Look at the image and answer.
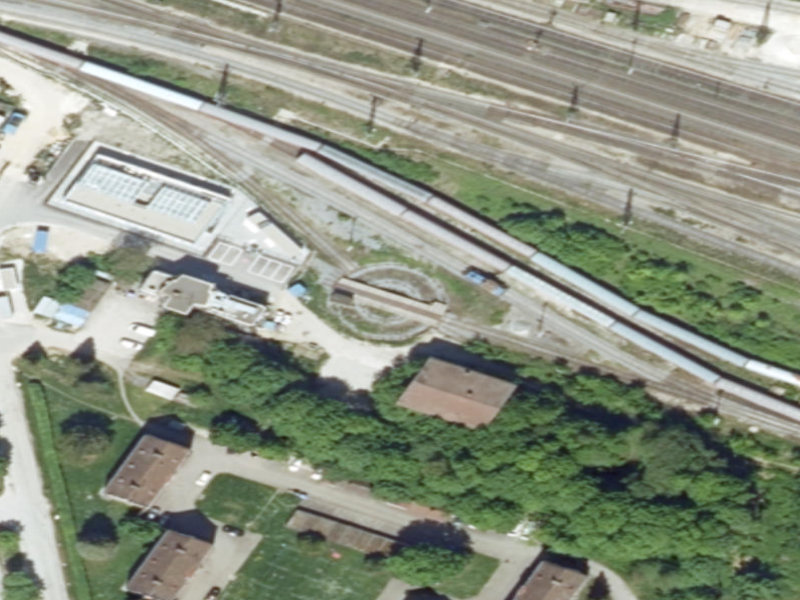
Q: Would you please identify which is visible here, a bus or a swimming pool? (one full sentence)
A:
This aerial view contains a bus.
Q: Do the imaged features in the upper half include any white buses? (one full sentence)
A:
Yes, a white bus appears in the upper half.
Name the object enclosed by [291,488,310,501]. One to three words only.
vehicle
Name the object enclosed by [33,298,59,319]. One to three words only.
shed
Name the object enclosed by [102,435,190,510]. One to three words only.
house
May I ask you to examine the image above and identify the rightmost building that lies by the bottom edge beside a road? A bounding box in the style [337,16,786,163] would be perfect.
[517,560,589,600]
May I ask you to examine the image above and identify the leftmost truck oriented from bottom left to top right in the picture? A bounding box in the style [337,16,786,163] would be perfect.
[2,109,23,135]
